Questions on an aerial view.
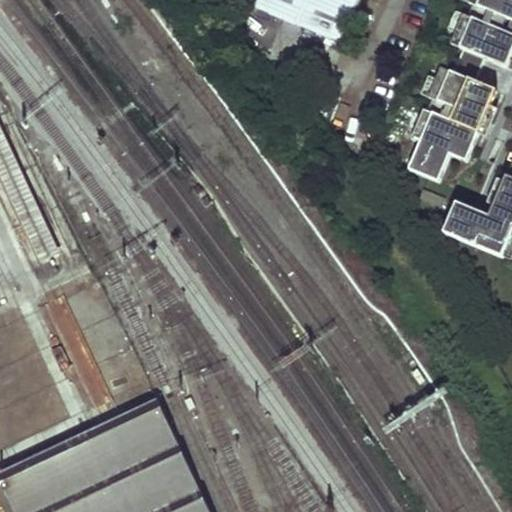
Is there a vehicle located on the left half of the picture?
Yes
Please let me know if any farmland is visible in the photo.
No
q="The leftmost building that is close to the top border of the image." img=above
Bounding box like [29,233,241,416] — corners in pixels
[255,0,356,44]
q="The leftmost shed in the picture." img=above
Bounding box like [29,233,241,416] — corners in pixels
[0,130,57,258]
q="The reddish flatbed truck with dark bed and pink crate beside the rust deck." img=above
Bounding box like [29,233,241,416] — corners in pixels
[49,335,72,371]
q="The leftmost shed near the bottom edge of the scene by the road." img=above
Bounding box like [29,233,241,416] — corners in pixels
[0,397,213,512]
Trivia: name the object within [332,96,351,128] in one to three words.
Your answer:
vehicle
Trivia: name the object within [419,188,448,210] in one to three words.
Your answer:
shed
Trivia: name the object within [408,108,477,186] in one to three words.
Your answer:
house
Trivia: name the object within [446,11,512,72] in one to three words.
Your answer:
house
